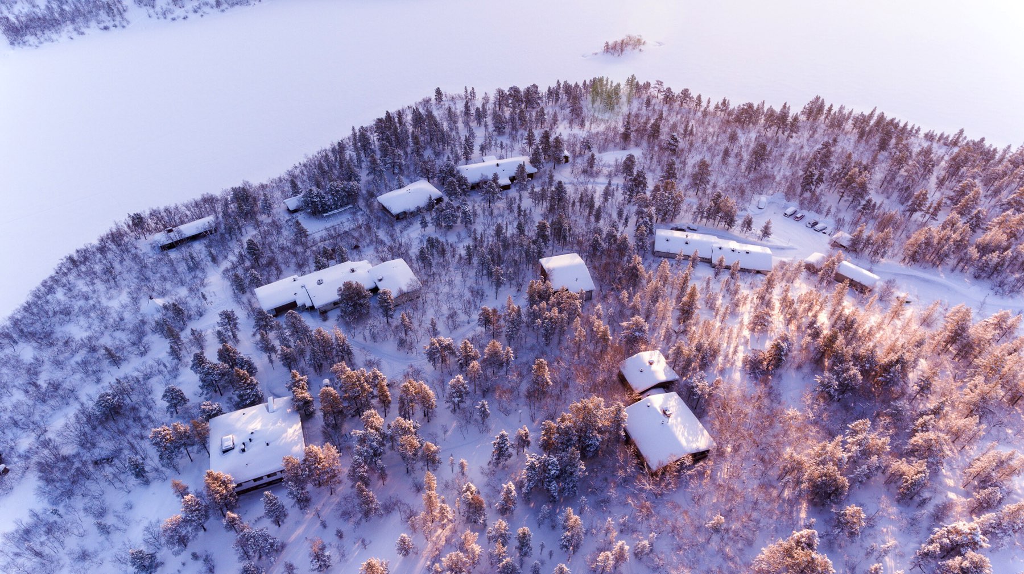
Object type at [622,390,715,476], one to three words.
house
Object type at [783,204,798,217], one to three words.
vehicle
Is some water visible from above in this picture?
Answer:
Yes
